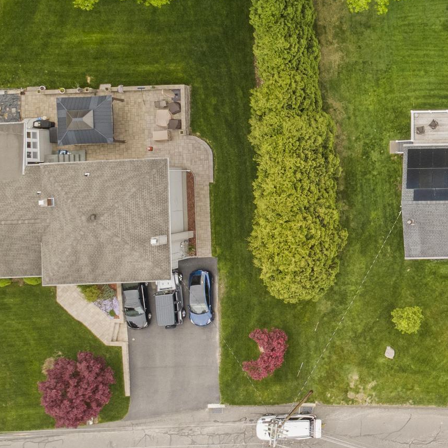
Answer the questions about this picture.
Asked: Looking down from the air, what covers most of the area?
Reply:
grass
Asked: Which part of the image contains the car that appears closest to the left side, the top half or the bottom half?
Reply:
bottom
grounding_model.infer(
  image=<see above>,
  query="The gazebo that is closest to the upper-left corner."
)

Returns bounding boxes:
[57,95,126,146]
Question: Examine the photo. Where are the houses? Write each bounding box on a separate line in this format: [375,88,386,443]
[399,143,448,261]
[0,121,195,286]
